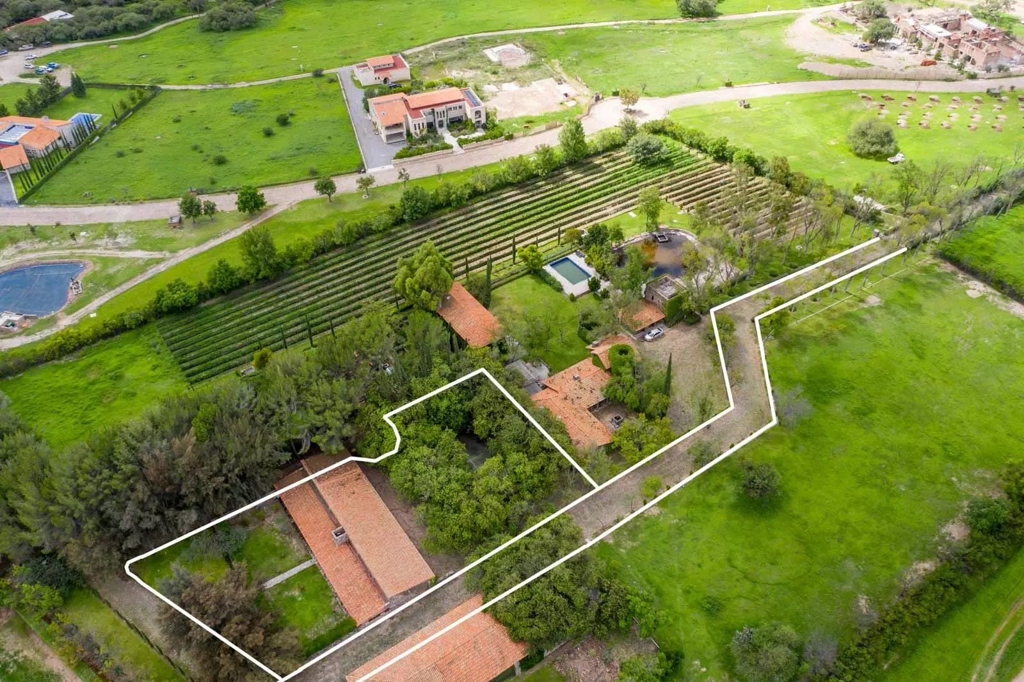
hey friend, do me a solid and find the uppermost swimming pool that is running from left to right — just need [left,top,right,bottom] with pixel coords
[71,112,103,125]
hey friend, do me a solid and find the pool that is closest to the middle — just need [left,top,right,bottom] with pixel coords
[539,248,612,294]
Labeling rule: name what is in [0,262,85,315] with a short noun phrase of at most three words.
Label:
pond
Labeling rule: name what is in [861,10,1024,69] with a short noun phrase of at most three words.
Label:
house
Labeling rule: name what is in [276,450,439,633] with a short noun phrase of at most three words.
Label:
house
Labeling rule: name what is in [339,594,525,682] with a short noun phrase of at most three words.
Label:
barn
